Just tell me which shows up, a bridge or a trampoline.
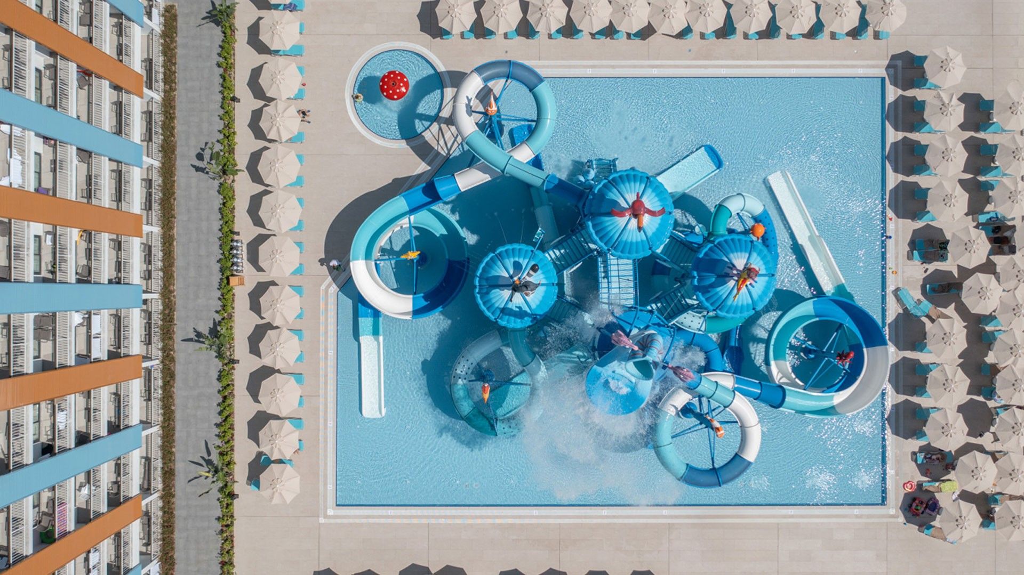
bridge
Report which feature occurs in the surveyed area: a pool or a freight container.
pool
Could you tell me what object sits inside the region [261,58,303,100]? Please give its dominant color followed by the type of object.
white umbrella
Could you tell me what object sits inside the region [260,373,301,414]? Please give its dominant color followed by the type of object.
white umbrella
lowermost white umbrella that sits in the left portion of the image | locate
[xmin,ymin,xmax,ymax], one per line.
[259,461,302,504]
